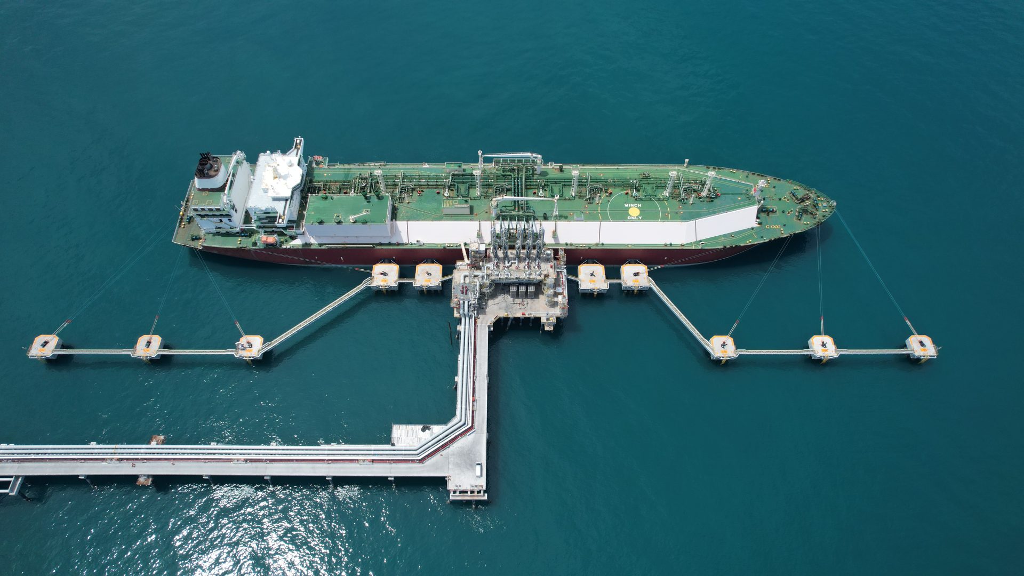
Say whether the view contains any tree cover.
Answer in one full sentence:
No, no tree cover is visible.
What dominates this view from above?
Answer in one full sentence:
Most of the picture is covered by water.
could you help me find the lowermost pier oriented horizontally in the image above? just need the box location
[0,324,492,491]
